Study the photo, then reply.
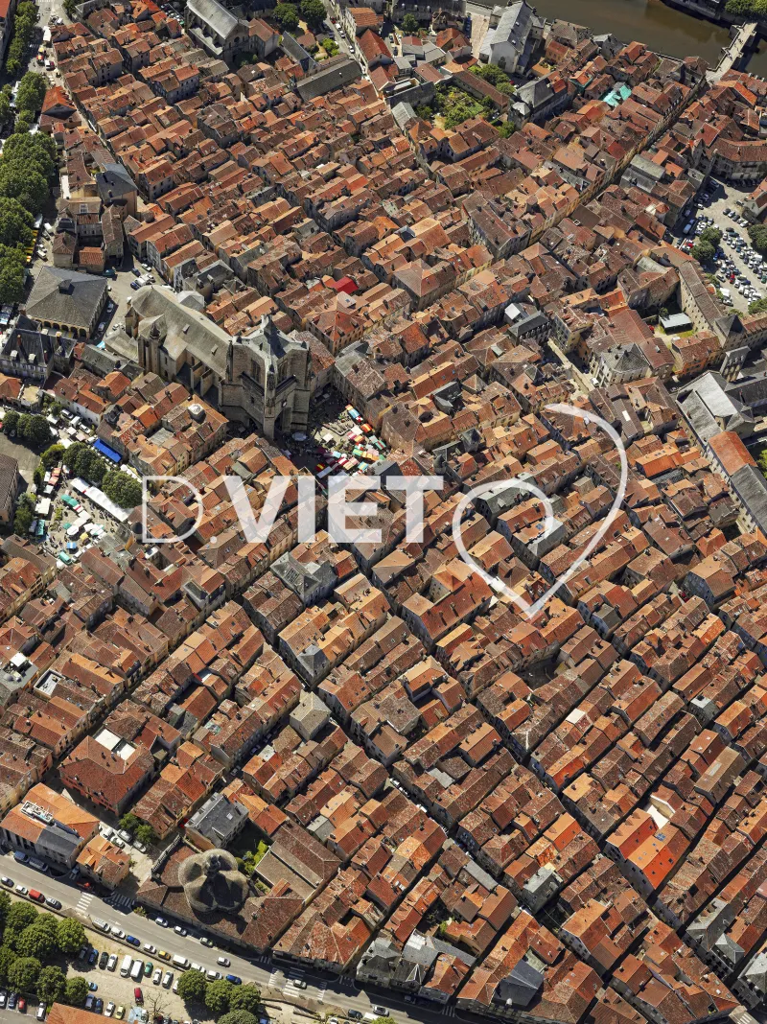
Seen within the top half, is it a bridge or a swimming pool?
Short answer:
bridge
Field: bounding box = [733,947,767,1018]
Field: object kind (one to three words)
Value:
house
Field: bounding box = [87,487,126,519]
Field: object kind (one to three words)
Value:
tent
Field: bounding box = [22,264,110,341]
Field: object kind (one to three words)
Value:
building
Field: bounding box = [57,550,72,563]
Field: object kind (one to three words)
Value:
vehicle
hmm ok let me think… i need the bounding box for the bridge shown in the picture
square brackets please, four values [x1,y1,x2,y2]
[708,20,758,88]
